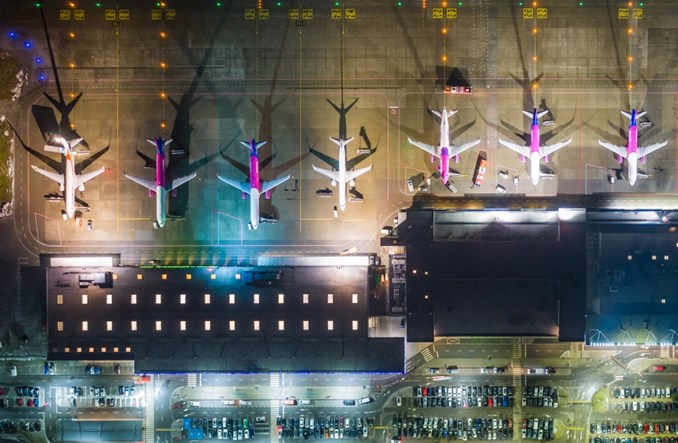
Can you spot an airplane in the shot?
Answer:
Yes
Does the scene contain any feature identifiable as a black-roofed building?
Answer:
Yes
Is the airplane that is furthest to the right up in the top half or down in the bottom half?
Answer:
top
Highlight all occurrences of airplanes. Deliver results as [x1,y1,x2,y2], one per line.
[216,136,291,230]
[122,134,197,228]
[595,107,672,187]
[407,105,483,185]
[312,134,372,211]
[28,140,104,219]
[498,107,574,187]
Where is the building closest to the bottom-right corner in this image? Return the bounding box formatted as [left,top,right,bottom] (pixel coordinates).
[585,210,678,345]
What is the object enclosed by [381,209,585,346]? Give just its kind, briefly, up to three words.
building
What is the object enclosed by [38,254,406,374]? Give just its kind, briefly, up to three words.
building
